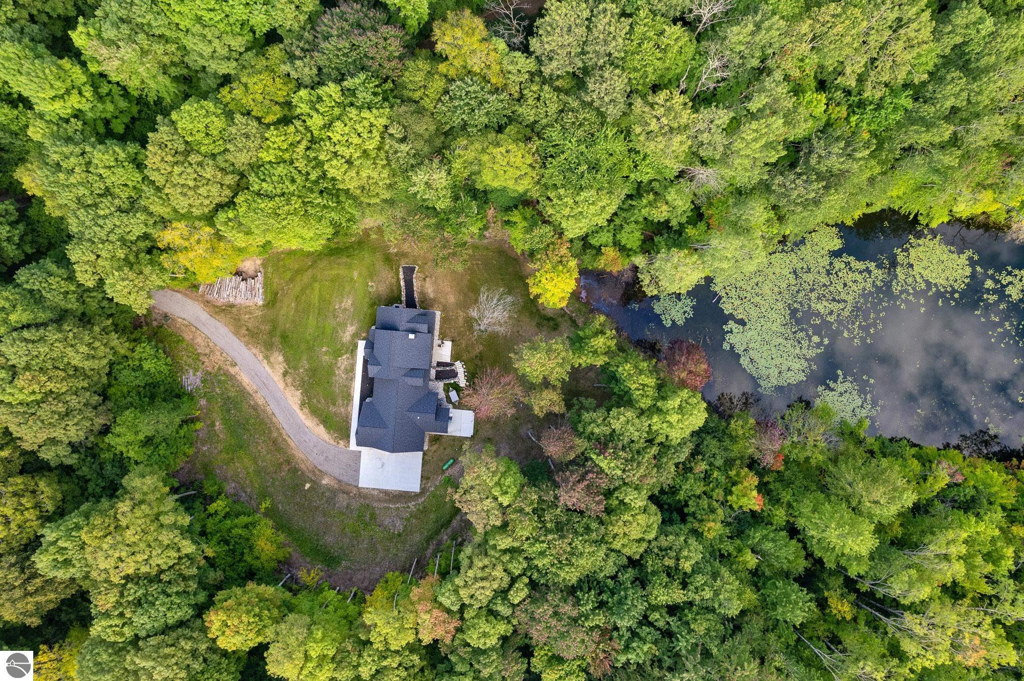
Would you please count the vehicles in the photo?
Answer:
none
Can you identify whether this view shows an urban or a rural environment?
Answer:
rural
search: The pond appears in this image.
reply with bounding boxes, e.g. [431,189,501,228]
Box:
[580,205,1024,457]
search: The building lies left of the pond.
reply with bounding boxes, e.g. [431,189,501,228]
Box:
[355,307,450,453]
